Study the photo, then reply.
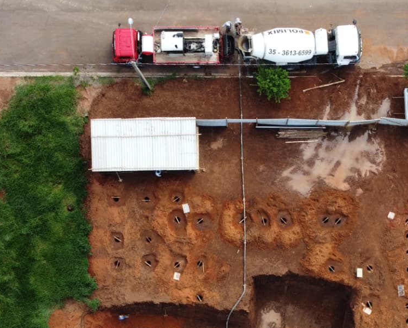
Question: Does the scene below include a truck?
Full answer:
Yes, the photo shows a truck.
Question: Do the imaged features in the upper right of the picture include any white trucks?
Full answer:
Yes, I can see a white truck in the upper right of the picture.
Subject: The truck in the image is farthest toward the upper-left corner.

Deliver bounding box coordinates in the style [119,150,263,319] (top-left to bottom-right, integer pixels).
[110,20,236,69]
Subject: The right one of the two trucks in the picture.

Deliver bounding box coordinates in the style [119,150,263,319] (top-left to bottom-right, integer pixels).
[240,23,365,73]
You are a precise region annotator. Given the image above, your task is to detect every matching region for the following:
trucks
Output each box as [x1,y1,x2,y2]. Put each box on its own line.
[110,20,236,69]
[240,23,365,73]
